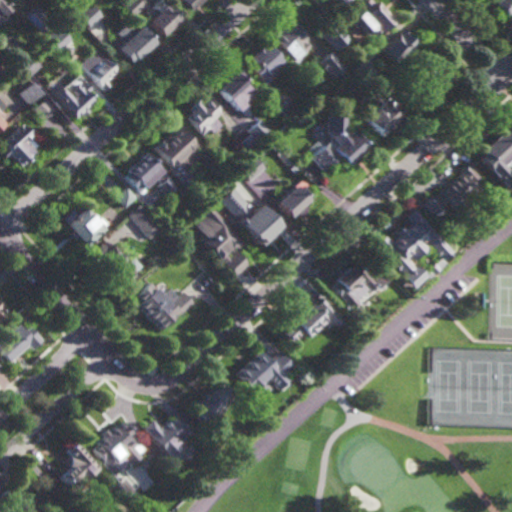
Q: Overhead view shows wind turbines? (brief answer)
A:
No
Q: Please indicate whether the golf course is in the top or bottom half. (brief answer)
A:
bottom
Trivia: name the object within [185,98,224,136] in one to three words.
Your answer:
house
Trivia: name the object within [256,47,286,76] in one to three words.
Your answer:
house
